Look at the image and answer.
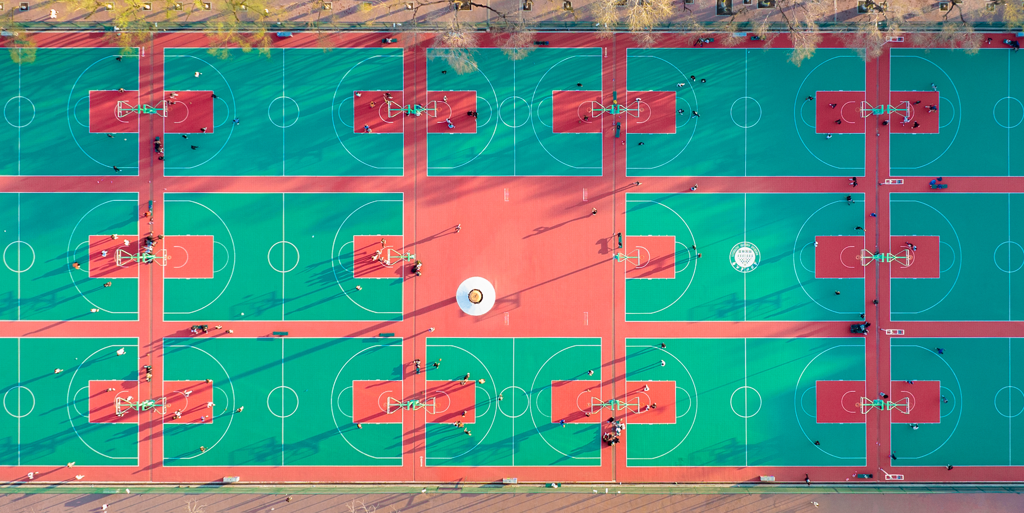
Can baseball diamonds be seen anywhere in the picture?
No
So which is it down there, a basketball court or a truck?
basketball court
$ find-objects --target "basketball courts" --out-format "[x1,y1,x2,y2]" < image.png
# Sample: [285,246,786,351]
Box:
[164,47,404,176]
[163,192,403,321]
[427,47,602,176]
[163,337,403,467]
[0,47,139,176]
[0,337,139,467]
[890,192,1024,321]
[426,337,602,467]
[626,47,866,176]
[0,192,139,321]
[890,47,1024,176]
[890,337,1024,467]
[626,337,866,467]
[626,192,865,321]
